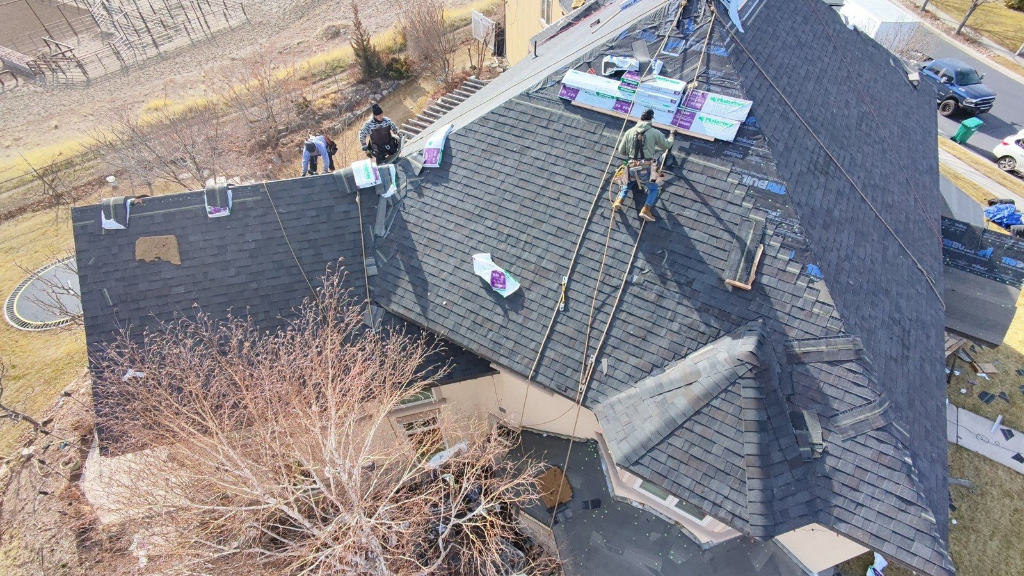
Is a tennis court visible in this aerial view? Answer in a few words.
No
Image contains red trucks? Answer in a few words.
No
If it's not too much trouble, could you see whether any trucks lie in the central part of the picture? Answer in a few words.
No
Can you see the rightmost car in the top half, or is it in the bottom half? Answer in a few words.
top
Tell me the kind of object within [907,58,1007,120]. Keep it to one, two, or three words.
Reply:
truck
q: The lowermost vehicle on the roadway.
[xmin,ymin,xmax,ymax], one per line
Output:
[999,135,1024,166]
